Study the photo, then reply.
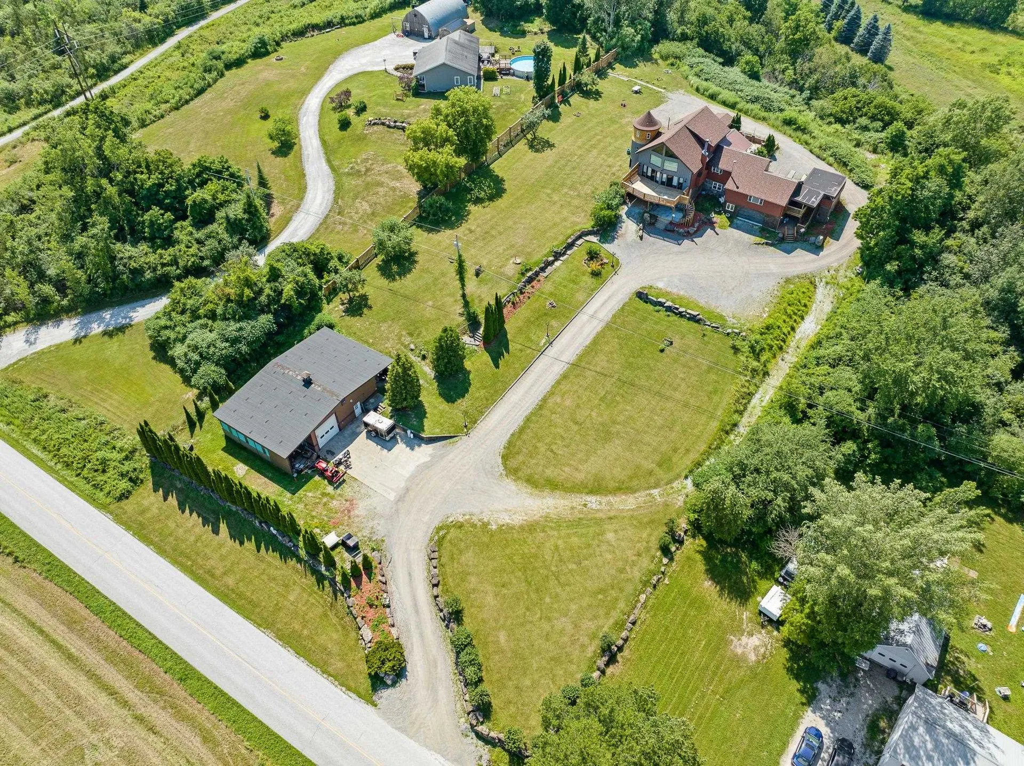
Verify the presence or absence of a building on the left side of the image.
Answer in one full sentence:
Yes, a building shows up on the left side of the image.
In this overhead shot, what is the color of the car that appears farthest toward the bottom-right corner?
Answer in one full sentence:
In this view, the car that appears farthest toward the bottom-right corner is black.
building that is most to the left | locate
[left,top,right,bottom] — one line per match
[210,327,393,474]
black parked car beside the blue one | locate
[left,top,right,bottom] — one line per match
[831,733,856,766]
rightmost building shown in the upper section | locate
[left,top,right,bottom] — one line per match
[620,103,849,240]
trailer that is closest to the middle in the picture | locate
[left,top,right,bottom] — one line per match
[363,411,396,440]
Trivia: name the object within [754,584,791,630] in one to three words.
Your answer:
trailer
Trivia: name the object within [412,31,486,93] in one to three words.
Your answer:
house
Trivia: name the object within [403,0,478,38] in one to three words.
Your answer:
barn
